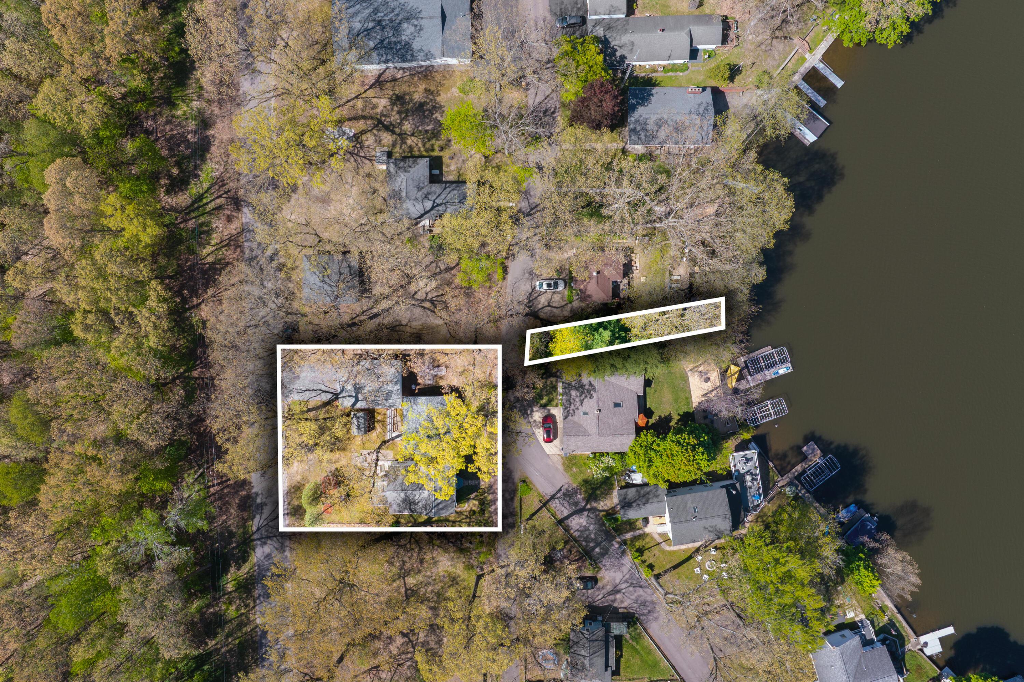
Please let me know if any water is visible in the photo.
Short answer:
Yes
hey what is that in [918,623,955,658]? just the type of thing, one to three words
pier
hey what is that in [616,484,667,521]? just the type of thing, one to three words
building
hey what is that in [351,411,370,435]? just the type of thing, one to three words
shed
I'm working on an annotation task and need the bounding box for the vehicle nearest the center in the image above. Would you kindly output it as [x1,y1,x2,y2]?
[535,278,565,293]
